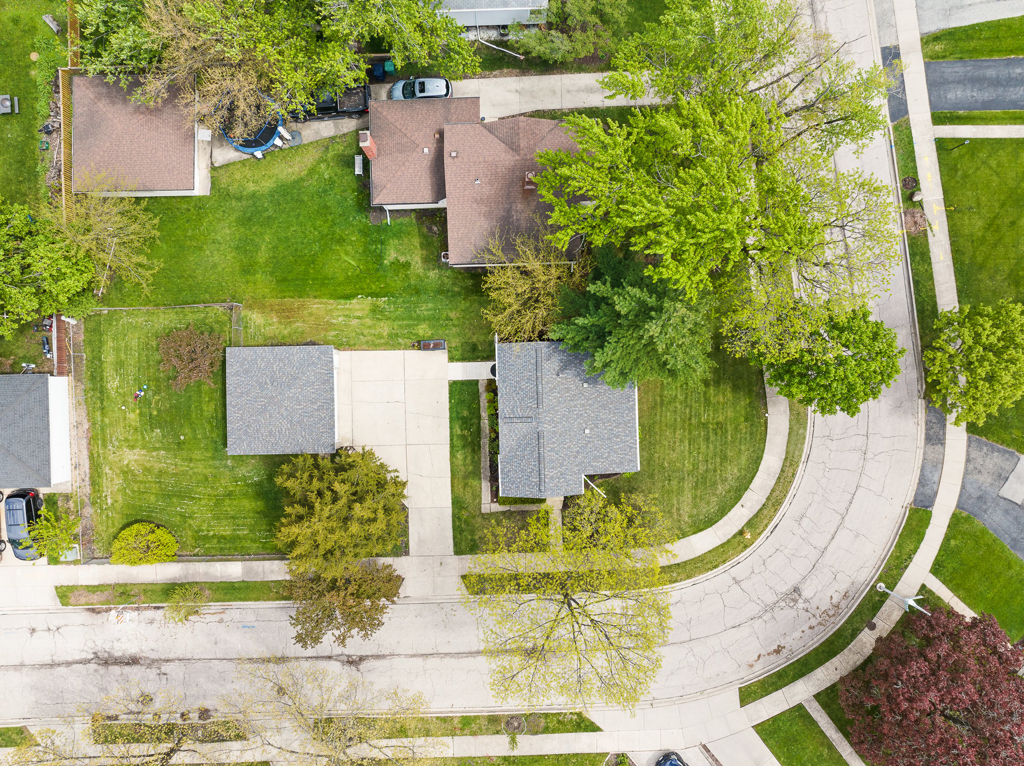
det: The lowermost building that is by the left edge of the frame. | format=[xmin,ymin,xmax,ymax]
[0,373,70,488]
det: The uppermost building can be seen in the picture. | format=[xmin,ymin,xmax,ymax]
[438,0,548,57]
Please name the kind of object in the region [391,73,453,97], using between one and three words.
car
